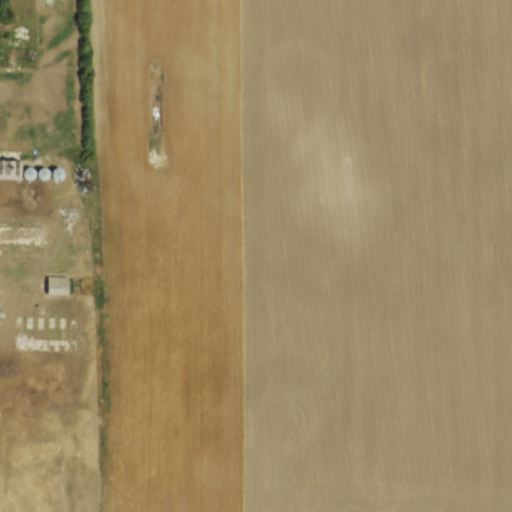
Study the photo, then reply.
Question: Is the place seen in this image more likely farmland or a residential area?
farmland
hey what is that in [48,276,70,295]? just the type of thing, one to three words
barn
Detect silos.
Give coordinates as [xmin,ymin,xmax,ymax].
[52,168,66,184]
[38,168,52,182]
[24,168,38,182]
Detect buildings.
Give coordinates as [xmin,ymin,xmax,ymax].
[0,160,20,176]
[48,276,70,295]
